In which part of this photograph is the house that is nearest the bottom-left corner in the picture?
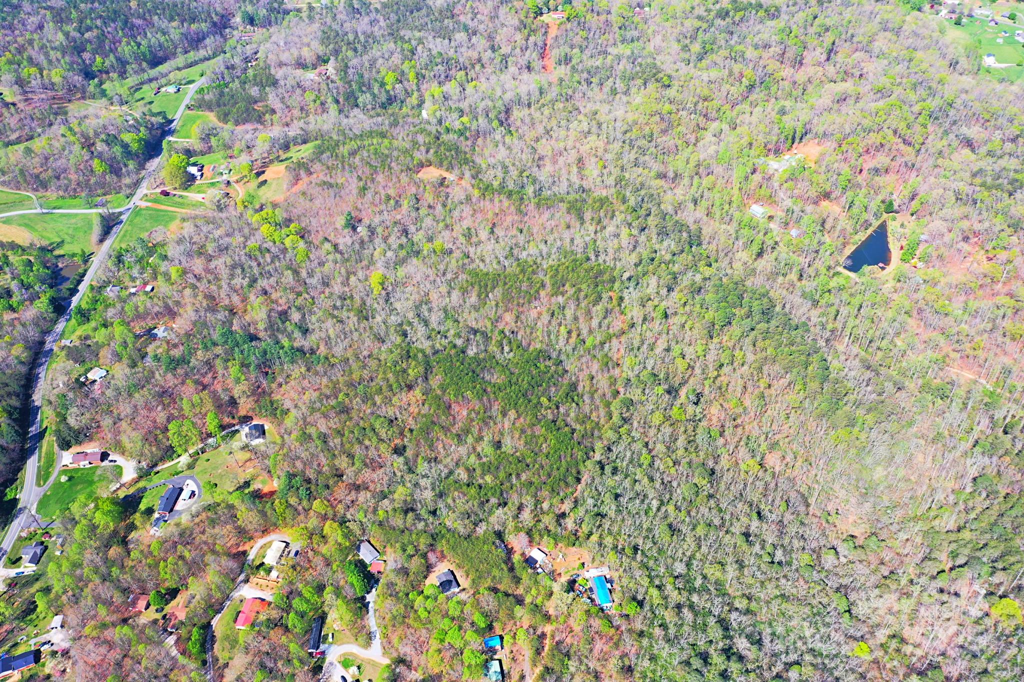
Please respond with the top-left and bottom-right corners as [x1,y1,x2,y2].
[0,649,38,680]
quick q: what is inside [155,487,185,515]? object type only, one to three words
house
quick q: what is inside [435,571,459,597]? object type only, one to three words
house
